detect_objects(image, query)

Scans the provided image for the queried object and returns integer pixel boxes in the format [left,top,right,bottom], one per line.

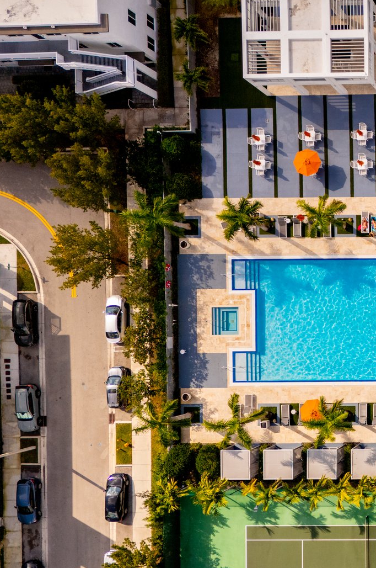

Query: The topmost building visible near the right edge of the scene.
[242,0,376,95]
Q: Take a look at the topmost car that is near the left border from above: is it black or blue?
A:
black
